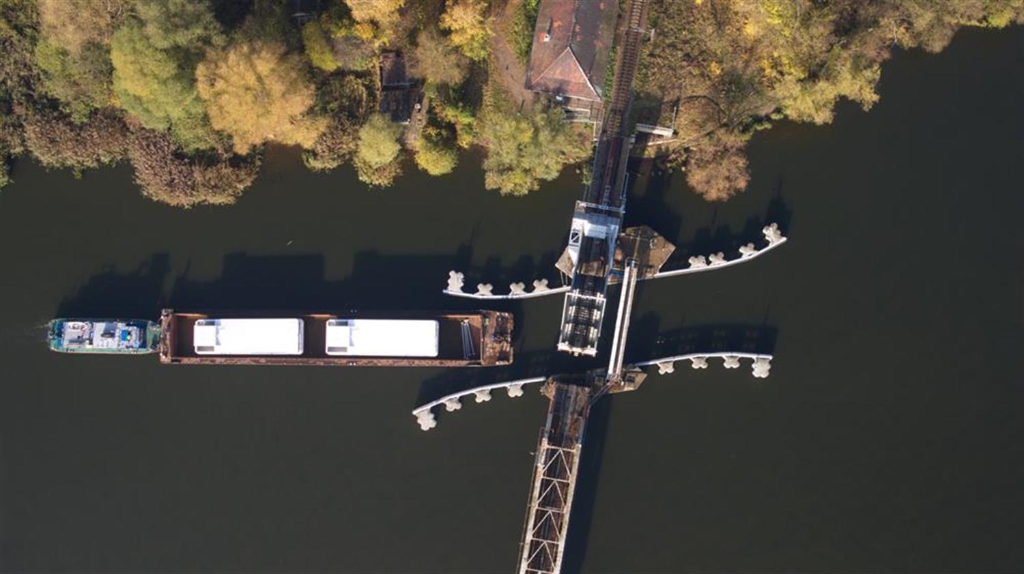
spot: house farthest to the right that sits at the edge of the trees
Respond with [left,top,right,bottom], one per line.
[524,0,620,101]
